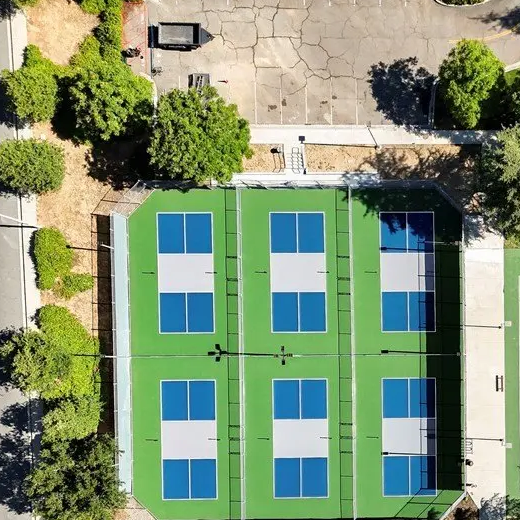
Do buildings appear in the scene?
No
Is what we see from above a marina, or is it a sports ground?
sports ground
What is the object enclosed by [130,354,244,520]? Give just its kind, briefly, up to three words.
sports court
